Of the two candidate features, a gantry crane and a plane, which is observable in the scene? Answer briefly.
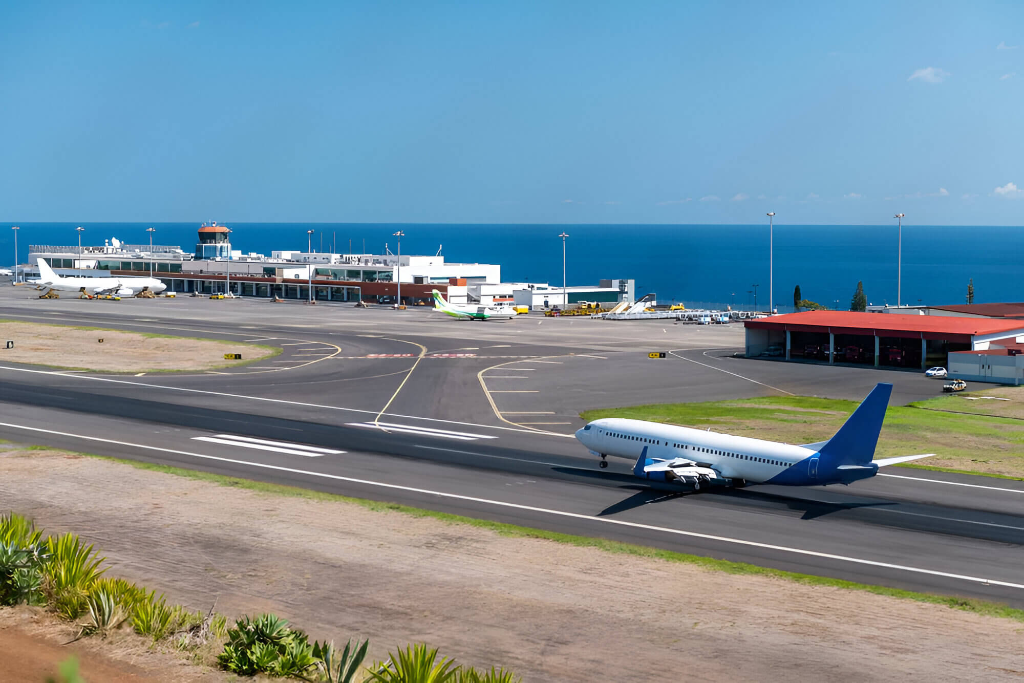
plane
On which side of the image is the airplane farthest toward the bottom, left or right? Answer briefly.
right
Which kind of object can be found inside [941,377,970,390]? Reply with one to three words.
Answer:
vehicle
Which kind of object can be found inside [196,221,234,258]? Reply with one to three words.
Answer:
building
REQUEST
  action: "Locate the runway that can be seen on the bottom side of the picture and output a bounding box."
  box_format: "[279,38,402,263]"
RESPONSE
[0,361,1024,611]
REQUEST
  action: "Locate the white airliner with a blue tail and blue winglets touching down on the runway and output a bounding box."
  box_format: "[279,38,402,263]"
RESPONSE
[575,381,932,489]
